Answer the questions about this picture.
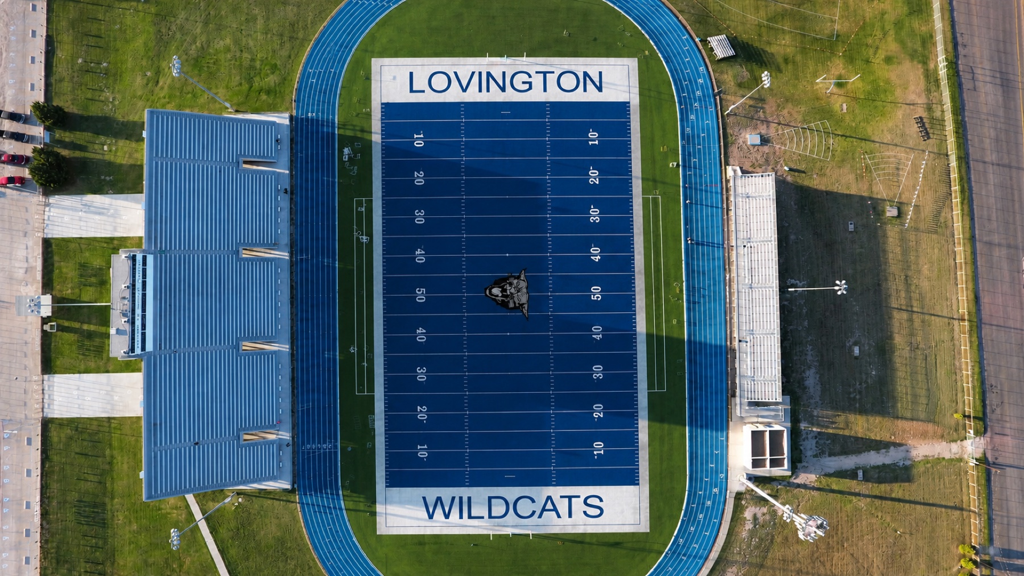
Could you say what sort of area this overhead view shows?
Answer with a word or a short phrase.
sports ground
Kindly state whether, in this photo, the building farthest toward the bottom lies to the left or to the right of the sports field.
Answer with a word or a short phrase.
to the right of it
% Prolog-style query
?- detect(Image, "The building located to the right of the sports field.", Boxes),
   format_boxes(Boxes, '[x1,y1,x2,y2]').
[743,423,788,470]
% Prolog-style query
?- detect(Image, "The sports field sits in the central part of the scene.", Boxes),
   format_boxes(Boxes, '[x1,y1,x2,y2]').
[381,102,637,488]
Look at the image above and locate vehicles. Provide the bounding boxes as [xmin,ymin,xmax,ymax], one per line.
[3,153,27,164]
[0,111,24,123]
[0,174,24,185]
[0,130,27,142]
